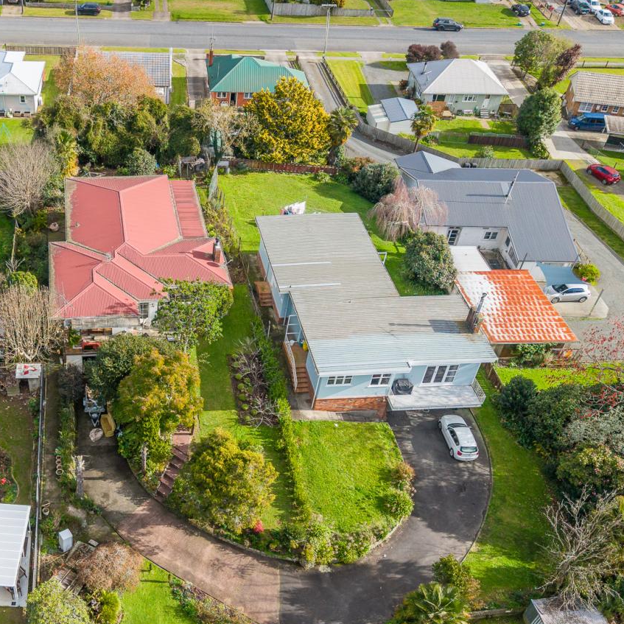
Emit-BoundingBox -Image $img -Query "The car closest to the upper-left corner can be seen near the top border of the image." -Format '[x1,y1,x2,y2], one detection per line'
[75,3,104,17]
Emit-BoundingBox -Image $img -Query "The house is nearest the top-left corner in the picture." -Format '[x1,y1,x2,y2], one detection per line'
[0,52,46,113]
